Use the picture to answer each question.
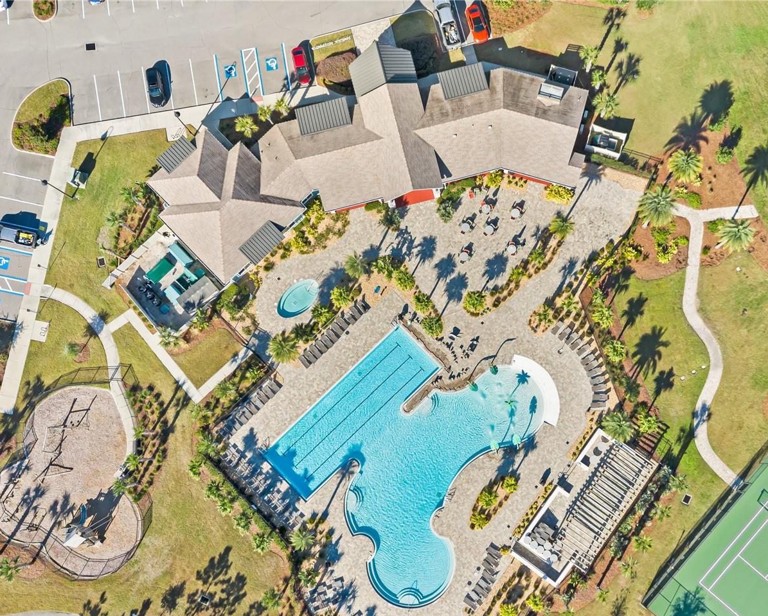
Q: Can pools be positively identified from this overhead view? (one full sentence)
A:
Yes, the frame does contain a pool.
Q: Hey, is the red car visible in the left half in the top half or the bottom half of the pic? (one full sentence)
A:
The top half of the photo is where the red car visible in the left half is.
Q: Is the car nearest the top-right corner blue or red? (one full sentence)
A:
The color of the car nearest the top-right corner is red.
